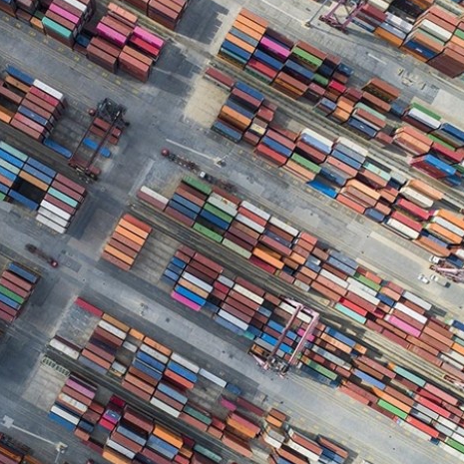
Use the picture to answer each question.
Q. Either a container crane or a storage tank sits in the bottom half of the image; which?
container crane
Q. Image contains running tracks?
No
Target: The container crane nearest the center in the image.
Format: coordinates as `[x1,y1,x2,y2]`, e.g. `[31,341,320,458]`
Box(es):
[250,293,324,378]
